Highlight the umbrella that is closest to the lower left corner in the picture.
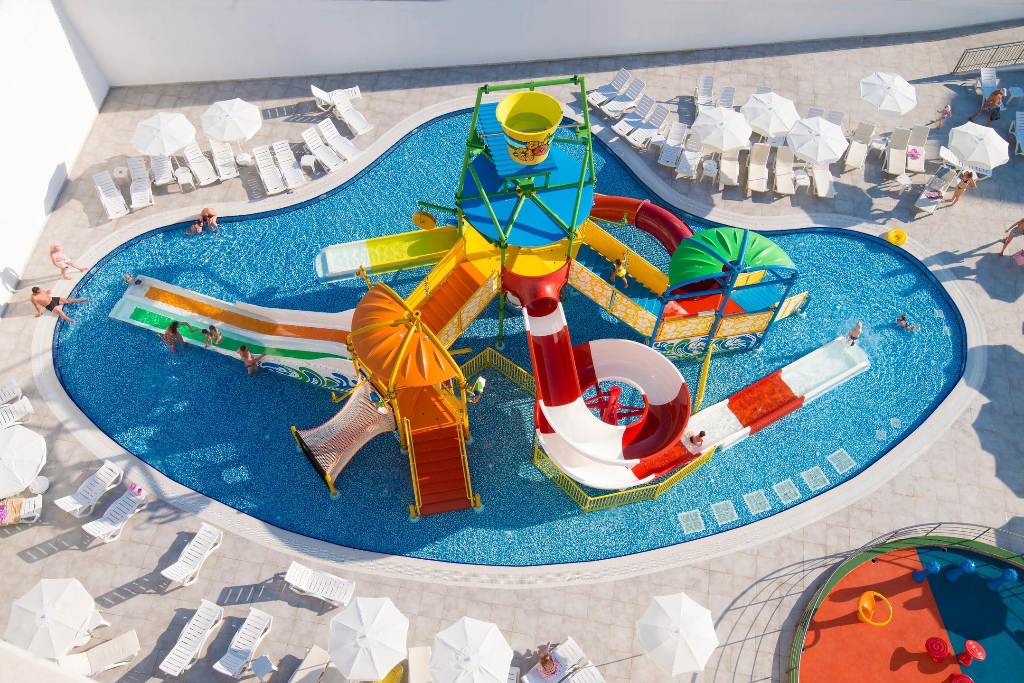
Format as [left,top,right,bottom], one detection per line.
[8,577,102,662]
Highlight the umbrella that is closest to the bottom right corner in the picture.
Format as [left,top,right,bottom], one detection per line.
[634,595,716,677]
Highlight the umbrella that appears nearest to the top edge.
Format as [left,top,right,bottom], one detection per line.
[860,77,916,123]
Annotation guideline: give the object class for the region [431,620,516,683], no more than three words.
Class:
umbrella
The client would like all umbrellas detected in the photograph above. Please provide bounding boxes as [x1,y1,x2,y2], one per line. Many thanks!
[431,620,516,683]
[860,77,916,123]
[134,120,197,190]
[325,597,410,683]
[737,96,796,163]
[634,595,716,677]
[943,124,1003,194]
[0,430,57,503]
[8,577,102,662]
[204,102,264,168]
[782,122,841,190]
[690,111,746,178]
